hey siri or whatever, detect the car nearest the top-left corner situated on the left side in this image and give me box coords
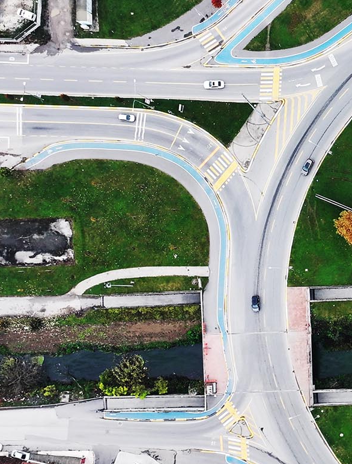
[18,7,38,21]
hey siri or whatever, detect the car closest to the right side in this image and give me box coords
[302,158,314,176]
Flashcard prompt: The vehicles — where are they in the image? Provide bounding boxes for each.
[18,7,38,21]
[117,114,136,123]
[203,80,225,89]
[302,158,314,176]
[12,449,32,459]
[251,294,260,312]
